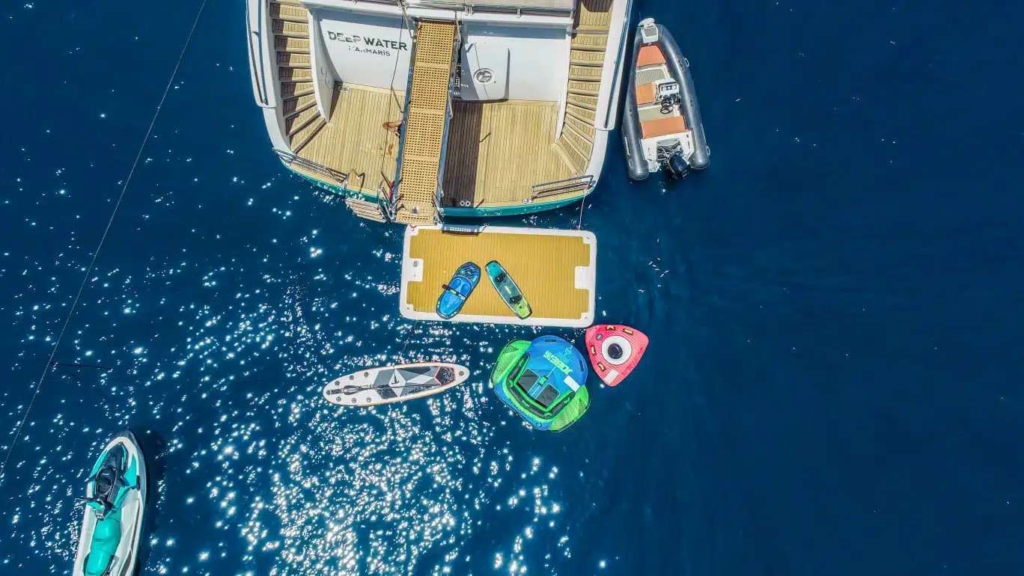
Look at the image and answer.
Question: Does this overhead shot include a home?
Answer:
No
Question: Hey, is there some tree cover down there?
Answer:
No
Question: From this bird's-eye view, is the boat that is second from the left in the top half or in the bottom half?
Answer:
top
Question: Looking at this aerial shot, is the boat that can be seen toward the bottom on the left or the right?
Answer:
left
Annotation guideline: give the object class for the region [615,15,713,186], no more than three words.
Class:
boat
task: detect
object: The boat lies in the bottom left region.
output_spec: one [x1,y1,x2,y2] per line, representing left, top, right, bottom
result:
[70,430,150,576]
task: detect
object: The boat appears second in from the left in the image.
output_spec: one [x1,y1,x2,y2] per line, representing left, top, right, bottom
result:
[249,0,632,233]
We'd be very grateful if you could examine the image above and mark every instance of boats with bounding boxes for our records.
[249,0,632,233]
[615,15,713,186]
[70,430,150,576]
